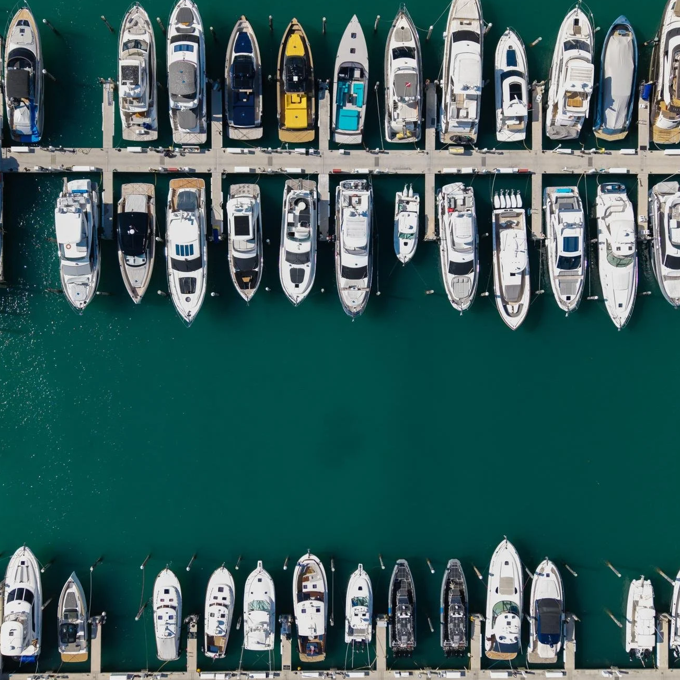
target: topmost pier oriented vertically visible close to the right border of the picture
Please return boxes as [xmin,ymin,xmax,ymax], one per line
[637,84,649,149]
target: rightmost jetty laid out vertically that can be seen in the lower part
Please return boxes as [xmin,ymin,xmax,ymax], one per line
[654,617,668,670]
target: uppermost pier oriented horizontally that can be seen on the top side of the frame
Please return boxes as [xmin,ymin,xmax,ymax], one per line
[3,148,680,175]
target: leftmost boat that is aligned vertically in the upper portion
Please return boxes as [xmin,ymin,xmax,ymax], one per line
[5,2,50,144]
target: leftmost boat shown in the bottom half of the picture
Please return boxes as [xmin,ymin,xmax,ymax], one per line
[1,540,45,662]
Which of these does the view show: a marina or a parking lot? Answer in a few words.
marina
